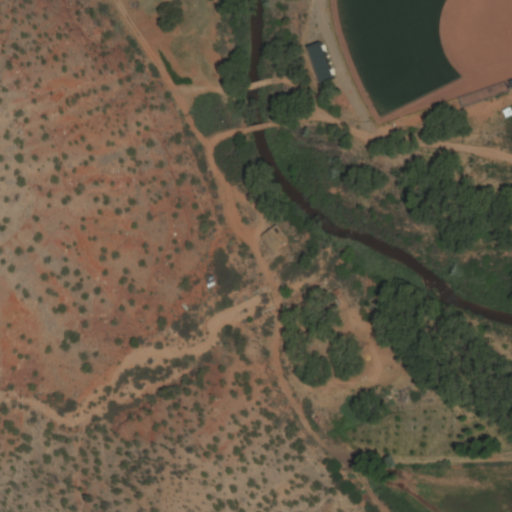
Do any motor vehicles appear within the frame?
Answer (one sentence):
No, I find no motor vehicle anywhere in the image.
